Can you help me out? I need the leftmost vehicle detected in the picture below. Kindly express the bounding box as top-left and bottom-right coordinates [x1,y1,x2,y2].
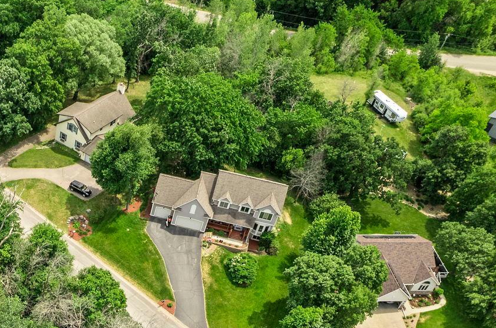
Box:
[67,180,93,199]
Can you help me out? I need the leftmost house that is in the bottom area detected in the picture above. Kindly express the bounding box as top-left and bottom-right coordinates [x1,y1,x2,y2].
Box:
[152,168,289,253]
